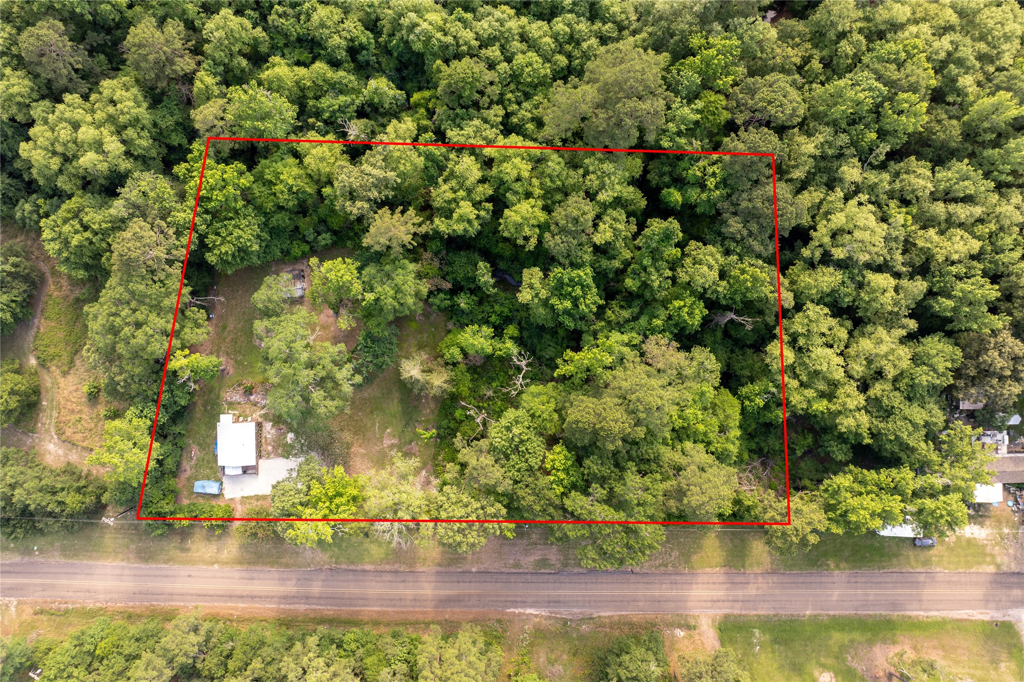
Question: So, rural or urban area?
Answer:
rural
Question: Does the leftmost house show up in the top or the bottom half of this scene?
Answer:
bottom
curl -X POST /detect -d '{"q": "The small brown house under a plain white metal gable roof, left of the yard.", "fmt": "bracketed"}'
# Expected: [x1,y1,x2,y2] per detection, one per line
[217,414,259,477]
